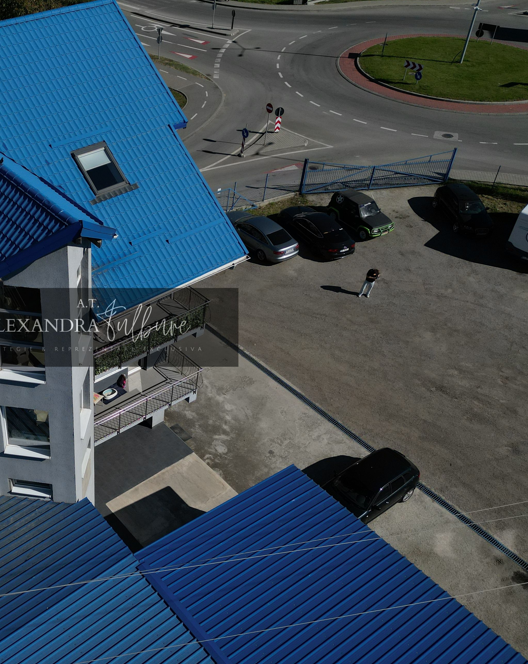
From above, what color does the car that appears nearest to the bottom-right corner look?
black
